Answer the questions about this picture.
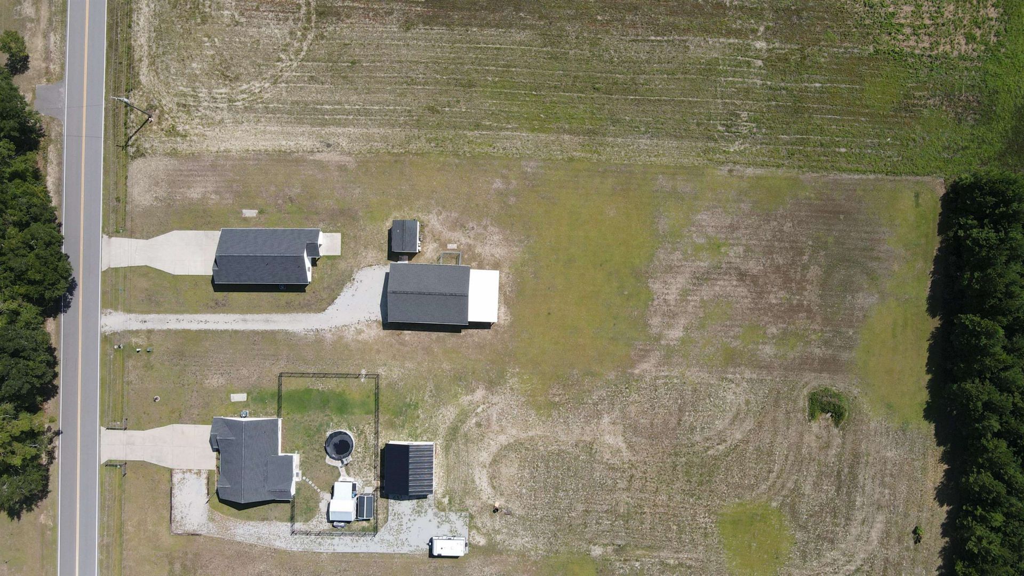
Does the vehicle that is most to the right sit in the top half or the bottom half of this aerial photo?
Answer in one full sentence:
You can find the vehicle that is most to the right in the bottom half.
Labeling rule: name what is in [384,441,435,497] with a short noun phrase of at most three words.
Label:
shed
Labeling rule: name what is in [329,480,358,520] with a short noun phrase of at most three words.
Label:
shed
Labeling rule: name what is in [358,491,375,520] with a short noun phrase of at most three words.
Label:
greenhouse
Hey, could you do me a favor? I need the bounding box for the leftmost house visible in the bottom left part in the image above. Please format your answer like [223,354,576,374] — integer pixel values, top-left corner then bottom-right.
[210,416,302,503]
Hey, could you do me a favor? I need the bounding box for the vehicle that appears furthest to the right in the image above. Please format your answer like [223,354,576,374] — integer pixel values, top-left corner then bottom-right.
[427,530,467,556]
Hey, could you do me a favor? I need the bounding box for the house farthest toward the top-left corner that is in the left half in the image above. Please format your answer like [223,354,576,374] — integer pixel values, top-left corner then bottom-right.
[211,228,323,284]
